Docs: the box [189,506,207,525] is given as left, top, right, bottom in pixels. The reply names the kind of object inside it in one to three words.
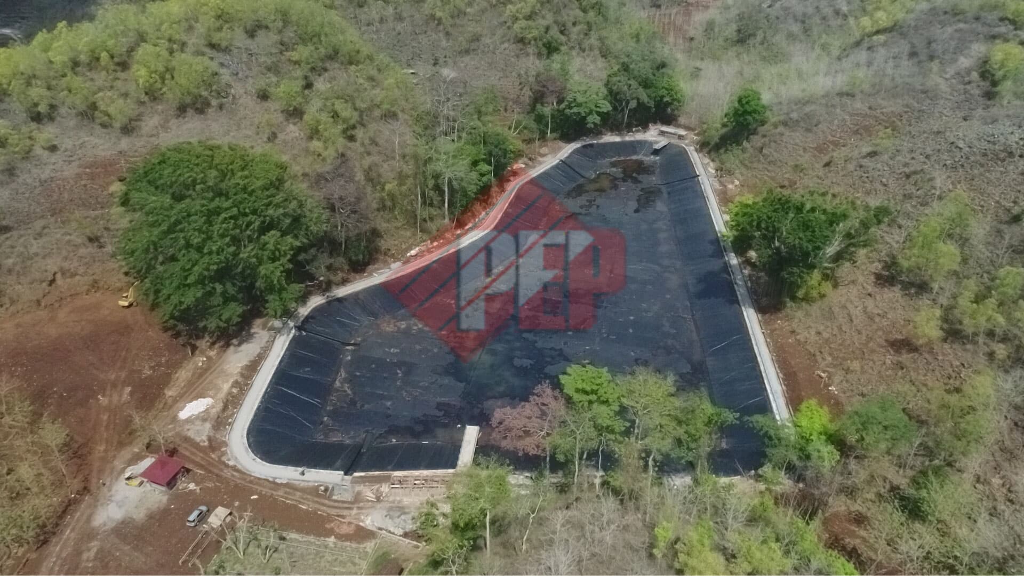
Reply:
car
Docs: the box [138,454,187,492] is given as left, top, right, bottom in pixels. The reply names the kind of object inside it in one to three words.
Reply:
shed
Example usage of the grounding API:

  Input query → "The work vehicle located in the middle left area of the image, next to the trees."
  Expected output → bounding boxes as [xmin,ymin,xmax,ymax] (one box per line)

[119,279,137,309]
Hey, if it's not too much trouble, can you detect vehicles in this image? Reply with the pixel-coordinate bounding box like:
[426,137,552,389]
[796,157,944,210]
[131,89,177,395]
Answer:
[119,279,137,309]
[189,506,207,525]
